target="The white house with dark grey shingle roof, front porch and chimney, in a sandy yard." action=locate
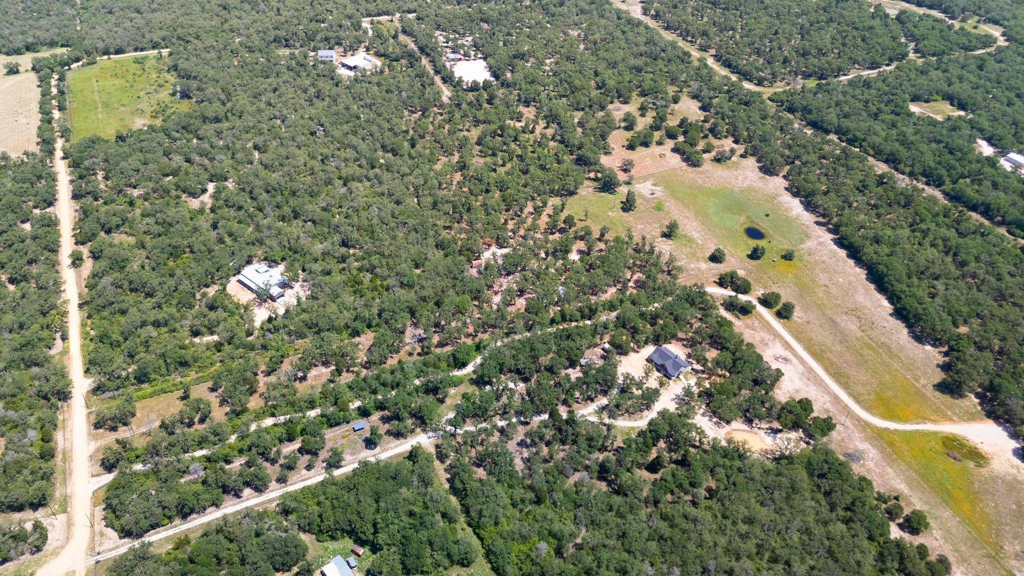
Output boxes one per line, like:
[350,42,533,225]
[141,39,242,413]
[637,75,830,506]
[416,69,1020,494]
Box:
[647,345,693,381]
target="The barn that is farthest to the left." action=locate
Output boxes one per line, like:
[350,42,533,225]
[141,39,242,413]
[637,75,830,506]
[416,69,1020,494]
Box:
[237,263,293,298]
